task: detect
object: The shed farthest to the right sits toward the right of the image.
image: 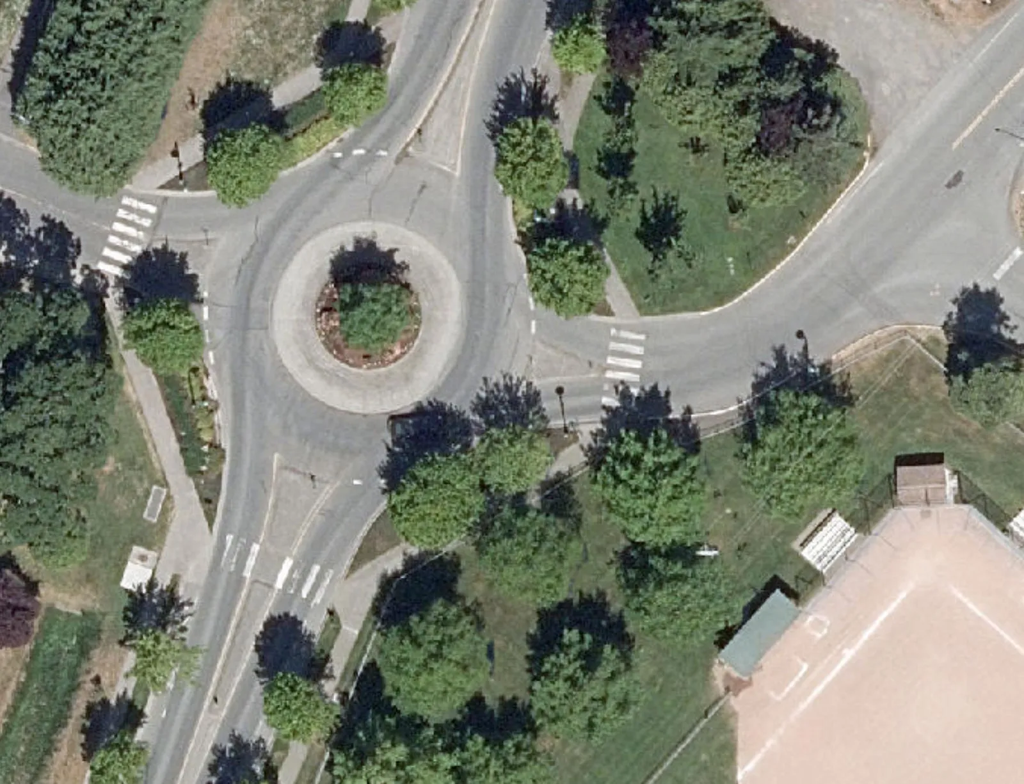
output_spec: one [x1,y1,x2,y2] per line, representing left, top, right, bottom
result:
[896,462,947,507]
